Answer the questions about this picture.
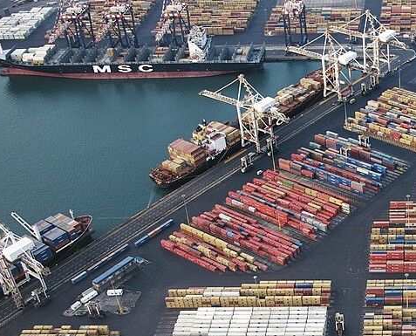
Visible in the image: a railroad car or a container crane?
container crane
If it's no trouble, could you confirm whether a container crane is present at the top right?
Yes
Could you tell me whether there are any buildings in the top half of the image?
No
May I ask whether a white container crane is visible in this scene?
Yes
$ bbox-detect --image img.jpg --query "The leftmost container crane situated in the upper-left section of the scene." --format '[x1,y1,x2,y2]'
[32,0,91,49]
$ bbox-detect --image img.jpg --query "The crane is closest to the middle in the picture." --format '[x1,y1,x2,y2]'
[189,77,296,164]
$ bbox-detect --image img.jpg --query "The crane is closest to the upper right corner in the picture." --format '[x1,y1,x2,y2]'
[325,9,416,84]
